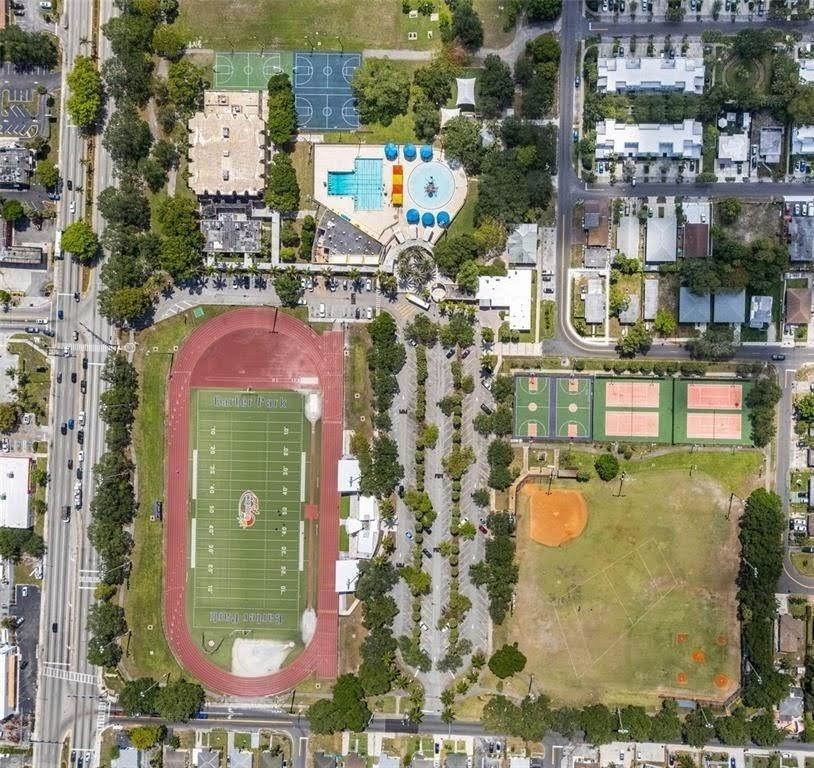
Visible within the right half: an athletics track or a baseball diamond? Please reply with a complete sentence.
Visible within the right half is a baseball diamond.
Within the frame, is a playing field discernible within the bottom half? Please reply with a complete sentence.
Yes, within the bottom half there is a playing field.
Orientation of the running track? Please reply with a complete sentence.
In this picture, the running track lies from top to bottom.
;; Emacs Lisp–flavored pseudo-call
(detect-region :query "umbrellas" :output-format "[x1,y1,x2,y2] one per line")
[403,145,417,159]
[436,212,451,226]
[385,144,398,158]
[407,210,420,223]
[421,212,435,226]
[421,146,434,160]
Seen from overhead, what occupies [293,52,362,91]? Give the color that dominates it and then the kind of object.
blue basketball court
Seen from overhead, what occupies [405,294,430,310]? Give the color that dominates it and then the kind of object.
white vehicle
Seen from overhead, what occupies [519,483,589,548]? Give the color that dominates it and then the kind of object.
orange baseball field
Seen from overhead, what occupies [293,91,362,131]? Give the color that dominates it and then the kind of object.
blue basketball court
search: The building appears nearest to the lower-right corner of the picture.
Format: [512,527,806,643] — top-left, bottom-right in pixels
[777,693,803,716]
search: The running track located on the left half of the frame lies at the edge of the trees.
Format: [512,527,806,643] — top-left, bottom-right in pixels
[163,307,342,697]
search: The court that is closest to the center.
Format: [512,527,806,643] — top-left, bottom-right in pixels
[514,374,553,441]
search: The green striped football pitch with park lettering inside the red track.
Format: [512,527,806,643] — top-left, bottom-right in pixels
[184,390,322,677]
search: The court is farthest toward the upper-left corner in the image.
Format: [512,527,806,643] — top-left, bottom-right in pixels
[211,51,293,90]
